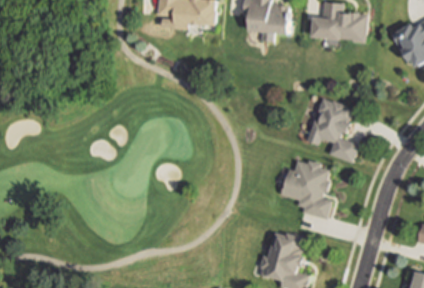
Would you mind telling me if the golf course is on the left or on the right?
left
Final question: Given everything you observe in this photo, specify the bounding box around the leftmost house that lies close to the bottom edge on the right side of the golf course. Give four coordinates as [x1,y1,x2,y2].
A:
[260,231,311,288]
